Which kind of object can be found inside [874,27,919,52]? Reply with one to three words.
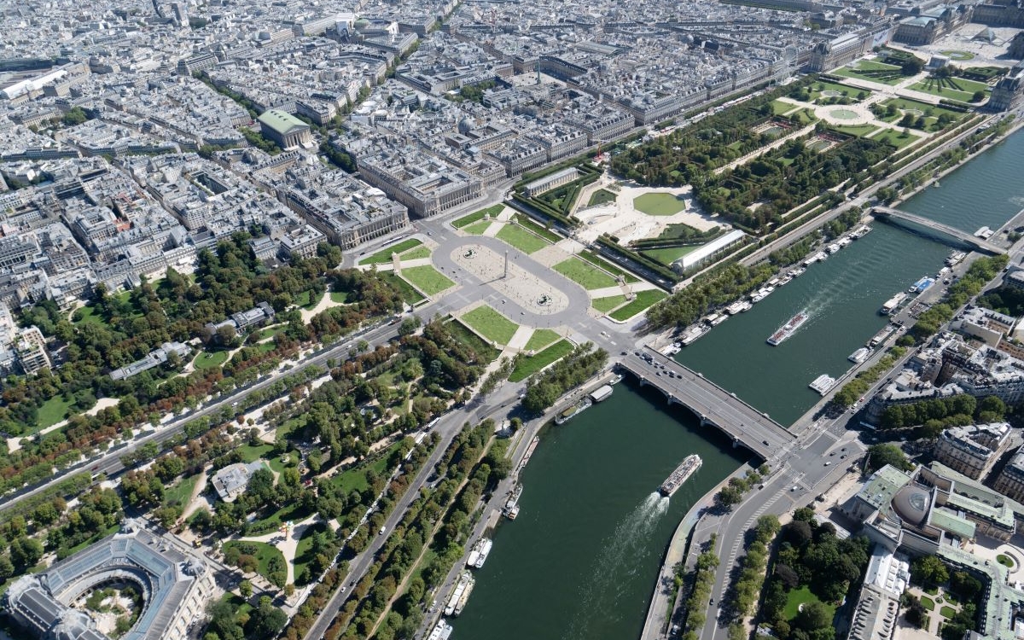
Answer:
building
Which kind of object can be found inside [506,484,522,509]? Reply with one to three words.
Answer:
boat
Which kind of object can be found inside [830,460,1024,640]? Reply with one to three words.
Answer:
building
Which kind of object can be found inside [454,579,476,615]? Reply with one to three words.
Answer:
boat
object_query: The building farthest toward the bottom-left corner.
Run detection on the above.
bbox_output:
[9,520,213,640]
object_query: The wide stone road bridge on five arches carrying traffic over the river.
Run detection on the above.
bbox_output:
[615,343,800,465]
